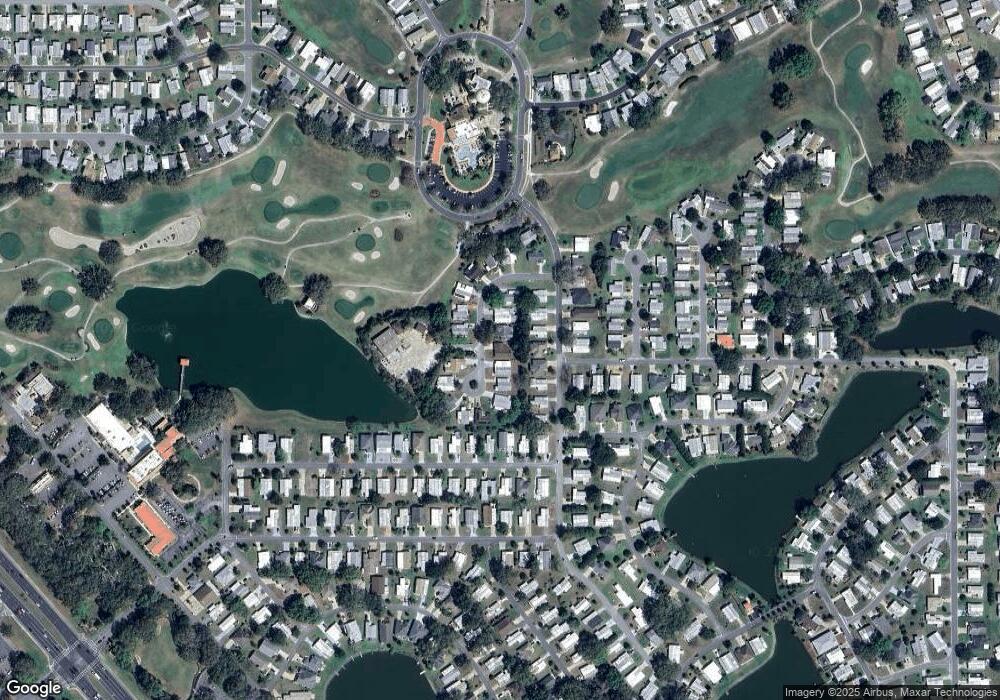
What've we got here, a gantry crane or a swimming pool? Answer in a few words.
swimming pool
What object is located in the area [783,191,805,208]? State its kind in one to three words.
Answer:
house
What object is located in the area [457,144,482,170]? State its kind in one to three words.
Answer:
swimming pool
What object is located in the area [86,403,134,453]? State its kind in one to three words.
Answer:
building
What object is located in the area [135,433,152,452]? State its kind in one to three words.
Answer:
swimming pool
